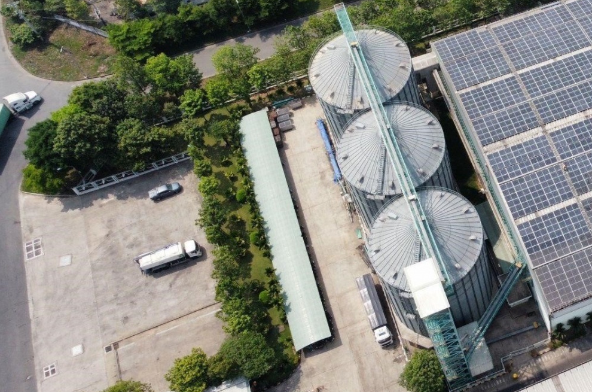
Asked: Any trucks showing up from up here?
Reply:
Yes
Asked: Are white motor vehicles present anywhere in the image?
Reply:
Yes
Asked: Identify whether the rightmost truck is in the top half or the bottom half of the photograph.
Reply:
bottom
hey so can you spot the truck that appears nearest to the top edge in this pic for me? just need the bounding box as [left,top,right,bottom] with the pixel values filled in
[4,90,46,121]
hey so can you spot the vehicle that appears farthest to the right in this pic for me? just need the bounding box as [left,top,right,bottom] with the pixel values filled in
[354,273,388,340]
